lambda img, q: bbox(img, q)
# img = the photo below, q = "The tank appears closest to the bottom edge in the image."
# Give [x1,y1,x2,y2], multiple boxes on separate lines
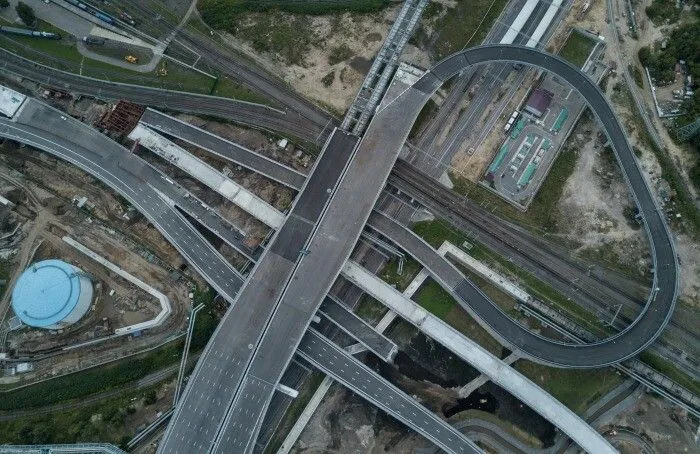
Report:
[10,258,92,328]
